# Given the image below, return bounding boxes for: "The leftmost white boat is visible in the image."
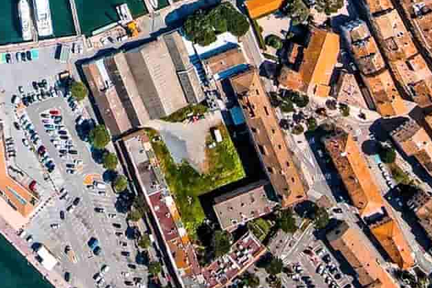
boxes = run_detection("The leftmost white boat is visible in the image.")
[19,0,32,41]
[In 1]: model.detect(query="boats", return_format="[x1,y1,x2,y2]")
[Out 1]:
[19,0,32,41]
[118,3,131,24]
[151,0,159,8]
[33,0,53,39]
